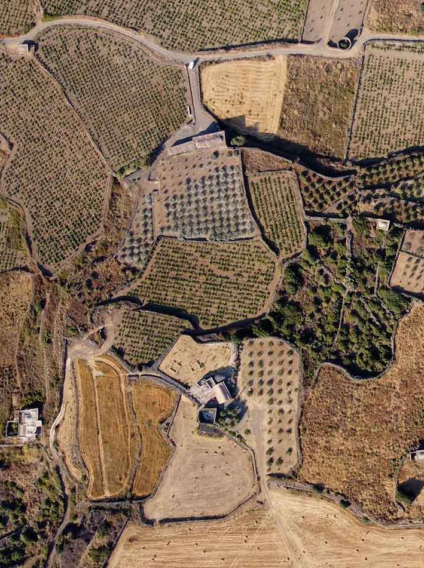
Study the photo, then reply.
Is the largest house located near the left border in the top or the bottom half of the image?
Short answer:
bottom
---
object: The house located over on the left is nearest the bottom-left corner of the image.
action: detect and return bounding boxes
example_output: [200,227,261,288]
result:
[17,408,45,438]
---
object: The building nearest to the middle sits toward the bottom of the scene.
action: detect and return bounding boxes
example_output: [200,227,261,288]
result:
[188,376,236,404]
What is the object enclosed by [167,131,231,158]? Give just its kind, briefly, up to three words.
house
